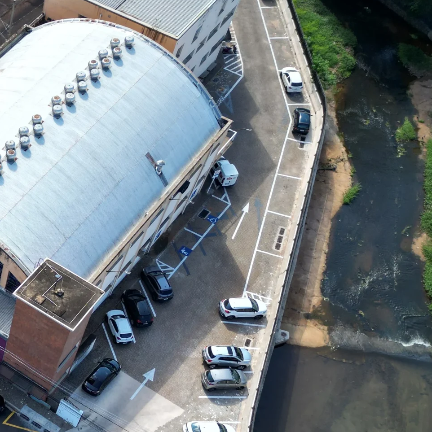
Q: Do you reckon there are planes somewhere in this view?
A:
No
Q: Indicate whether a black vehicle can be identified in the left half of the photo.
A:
Yes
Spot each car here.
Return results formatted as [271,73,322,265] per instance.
[103,307,136,348]
[196,368,250,393]
[291,108,314,137]
[83,358,125,398]
[138,266,178,306]
[200,341,254,368]
[181,422,236,432]
[279,67,304,95]
[215,293,268,318]
[120,288,156,330]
